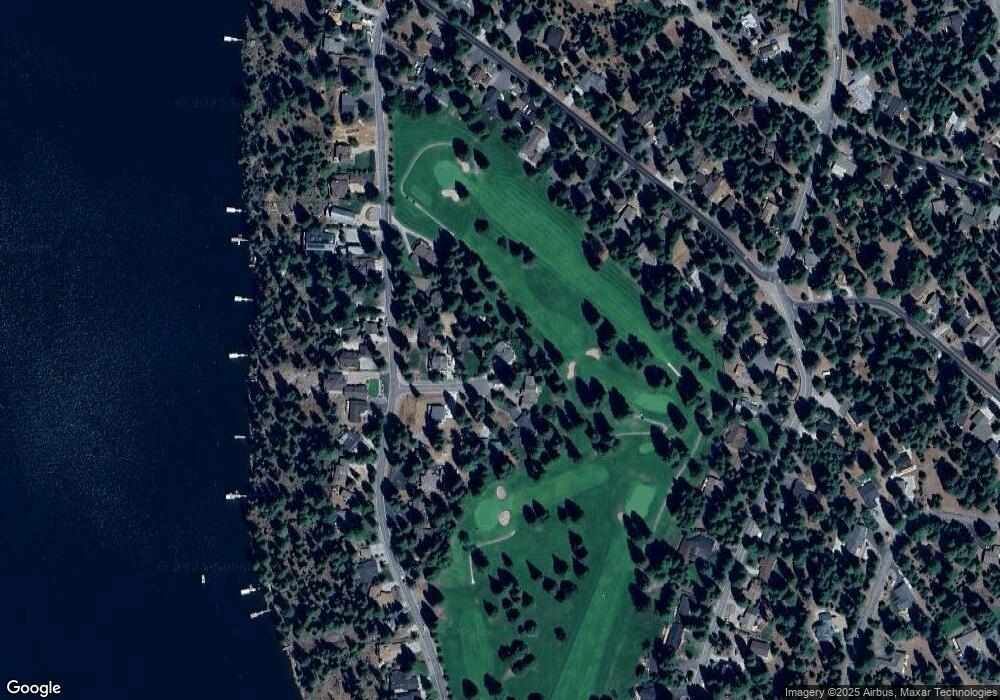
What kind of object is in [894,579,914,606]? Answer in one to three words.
house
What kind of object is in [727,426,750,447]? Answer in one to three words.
house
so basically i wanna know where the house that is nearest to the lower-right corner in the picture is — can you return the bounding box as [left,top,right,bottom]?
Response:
[953,629,985,655]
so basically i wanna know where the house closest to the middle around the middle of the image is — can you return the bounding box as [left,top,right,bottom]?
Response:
[493,339,517,363]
